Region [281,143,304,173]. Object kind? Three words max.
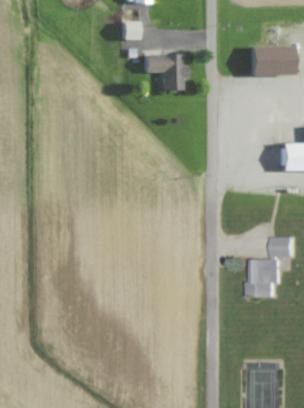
shed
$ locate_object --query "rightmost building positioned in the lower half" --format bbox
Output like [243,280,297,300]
[268,238,294,260]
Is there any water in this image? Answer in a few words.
No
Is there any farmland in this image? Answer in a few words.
Yes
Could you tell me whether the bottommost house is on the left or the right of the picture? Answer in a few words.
right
